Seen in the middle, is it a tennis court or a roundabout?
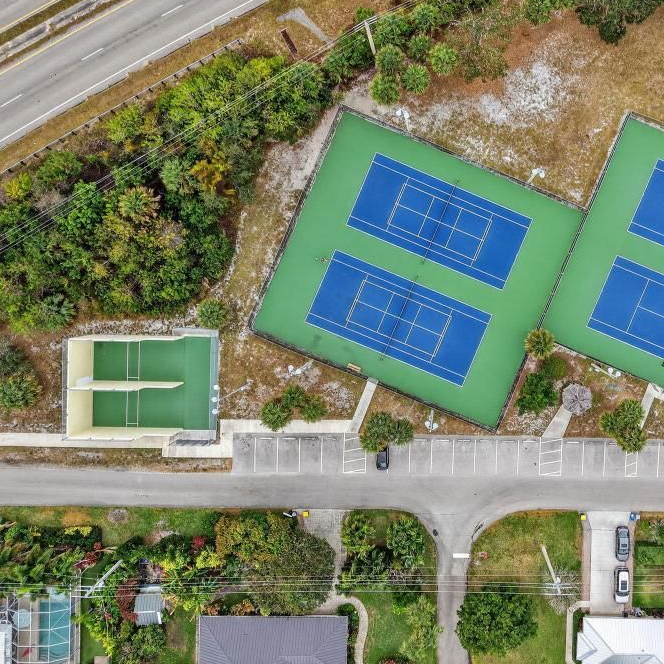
tennis court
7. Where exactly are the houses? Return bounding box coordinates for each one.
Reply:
[198,612,348,664]
[0,624,13,664]
[583,613,664,664]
